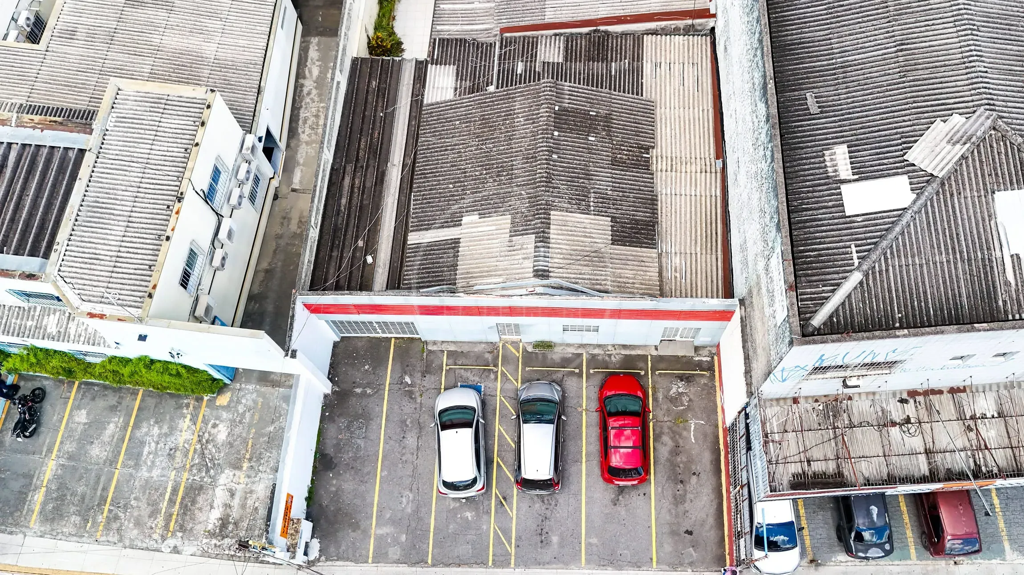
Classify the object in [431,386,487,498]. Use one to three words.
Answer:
car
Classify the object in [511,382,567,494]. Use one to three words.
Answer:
car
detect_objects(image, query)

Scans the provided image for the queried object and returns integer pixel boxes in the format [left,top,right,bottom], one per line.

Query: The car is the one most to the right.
[910,488,982,560]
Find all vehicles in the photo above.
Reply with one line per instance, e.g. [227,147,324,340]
[910,488,982,560]
[597,375,651,487]
[431,386,487,498]
[511,382,567,494]
[744,458,808,575]
[828,494,888,561]
[6,384,44,439]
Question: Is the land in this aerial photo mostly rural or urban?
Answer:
urban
